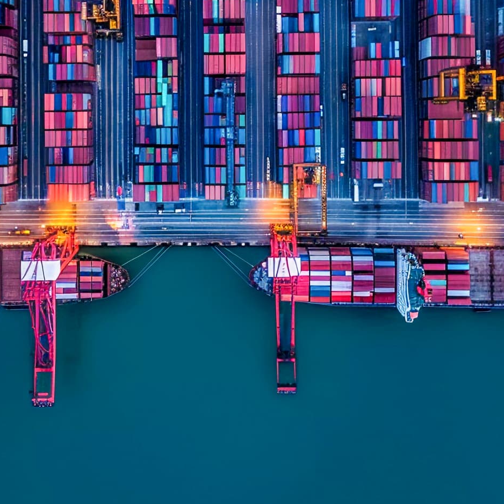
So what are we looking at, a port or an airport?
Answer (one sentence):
This looks like a port.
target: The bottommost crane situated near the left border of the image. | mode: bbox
[19,226,79,411]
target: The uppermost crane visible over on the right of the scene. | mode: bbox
[433,68,499,110]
